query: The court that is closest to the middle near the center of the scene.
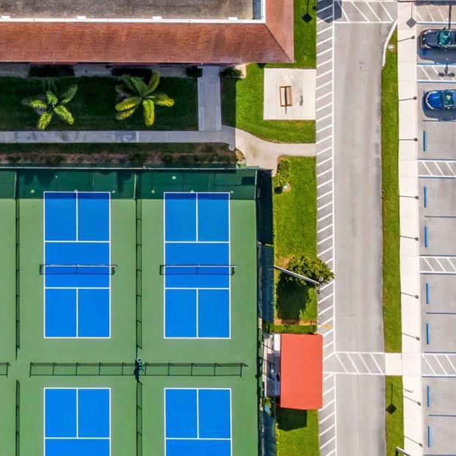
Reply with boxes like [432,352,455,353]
[164,192,231,338]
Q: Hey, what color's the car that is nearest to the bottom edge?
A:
blue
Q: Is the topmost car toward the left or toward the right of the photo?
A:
right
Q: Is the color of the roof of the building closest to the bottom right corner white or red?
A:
red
